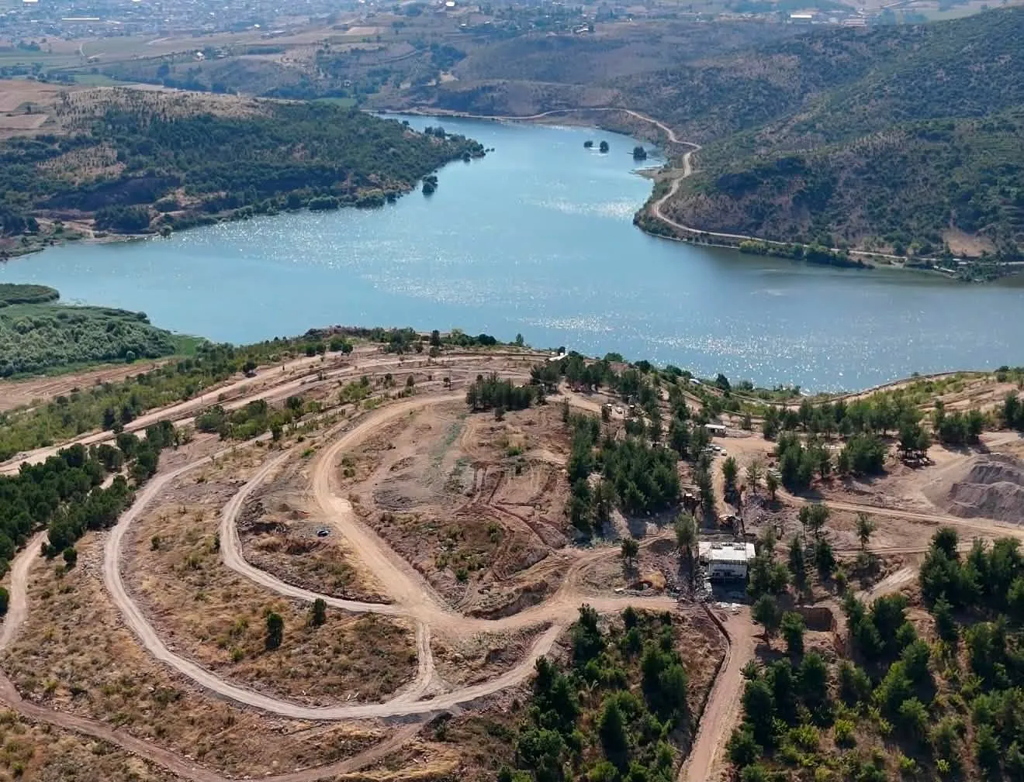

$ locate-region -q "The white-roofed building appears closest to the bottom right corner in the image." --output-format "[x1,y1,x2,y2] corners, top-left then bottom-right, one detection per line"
[697,544,756,584]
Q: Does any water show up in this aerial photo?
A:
Yes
